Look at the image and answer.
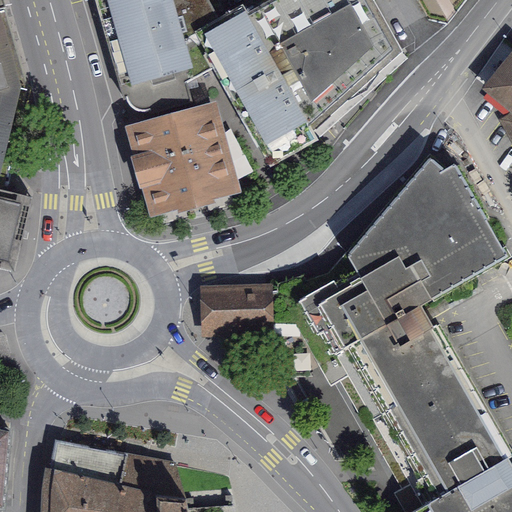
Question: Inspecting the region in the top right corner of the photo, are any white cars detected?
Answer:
Yes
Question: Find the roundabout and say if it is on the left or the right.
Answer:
left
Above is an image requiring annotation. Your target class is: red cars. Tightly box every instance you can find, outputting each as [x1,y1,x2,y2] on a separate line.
[42,218,54,240]
[253,404,274,423]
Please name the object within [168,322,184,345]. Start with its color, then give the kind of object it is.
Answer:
blue car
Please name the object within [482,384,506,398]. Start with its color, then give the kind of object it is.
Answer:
gray car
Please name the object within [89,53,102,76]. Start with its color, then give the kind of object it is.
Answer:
white vehicle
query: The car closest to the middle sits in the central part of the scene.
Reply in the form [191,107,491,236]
[212,230,236,243]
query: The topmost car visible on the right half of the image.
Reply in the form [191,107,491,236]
[390,17,408,40]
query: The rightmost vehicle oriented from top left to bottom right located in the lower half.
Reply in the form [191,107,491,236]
[299,446,318,466]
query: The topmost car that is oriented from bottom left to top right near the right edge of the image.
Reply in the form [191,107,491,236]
[474,100,494,122]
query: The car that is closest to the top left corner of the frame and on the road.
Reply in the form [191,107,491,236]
[63,36,76,60]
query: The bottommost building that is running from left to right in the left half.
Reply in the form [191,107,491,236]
[40,440,186,512]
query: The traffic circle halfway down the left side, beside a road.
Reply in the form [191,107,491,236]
[15,171,234,416]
